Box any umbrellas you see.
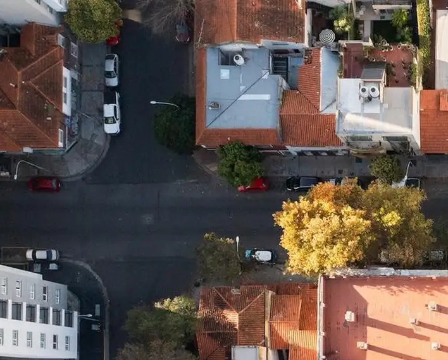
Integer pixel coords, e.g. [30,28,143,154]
[319,30,334,44]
